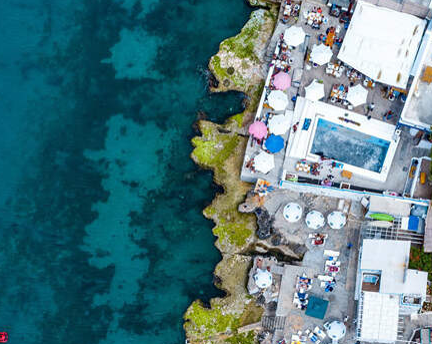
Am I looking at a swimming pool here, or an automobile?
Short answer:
swimming pool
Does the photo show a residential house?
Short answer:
Yes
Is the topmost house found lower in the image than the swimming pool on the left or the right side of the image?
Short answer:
right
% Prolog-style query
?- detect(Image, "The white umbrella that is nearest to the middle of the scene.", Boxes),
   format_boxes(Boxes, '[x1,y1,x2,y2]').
[254,153,276,175]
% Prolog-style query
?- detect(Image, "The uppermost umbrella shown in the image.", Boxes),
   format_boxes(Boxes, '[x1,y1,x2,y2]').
[285,26,306,47]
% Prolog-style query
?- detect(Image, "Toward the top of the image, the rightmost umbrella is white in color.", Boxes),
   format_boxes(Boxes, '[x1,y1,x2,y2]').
[348,84,367,106]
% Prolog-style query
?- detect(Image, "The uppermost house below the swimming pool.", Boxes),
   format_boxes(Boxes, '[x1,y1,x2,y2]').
[361,198,412,220]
